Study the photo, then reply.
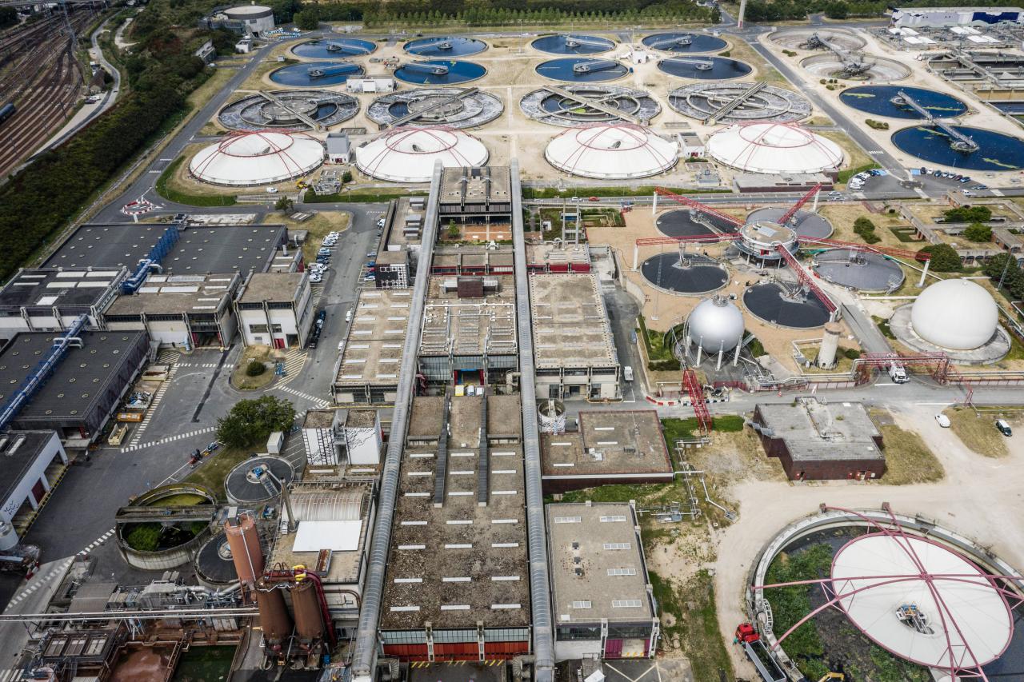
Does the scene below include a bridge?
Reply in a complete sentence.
Yes, the photo shows a bridge.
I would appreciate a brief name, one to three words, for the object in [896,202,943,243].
building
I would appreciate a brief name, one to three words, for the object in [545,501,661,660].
building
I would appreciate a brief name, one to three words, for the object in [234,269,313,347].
house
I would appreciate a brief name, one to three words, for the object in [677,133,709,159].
house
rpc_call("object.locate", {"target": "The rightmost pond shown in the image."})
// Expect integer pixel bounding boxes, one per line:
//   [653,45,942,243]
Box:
[741,501,1024,682]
